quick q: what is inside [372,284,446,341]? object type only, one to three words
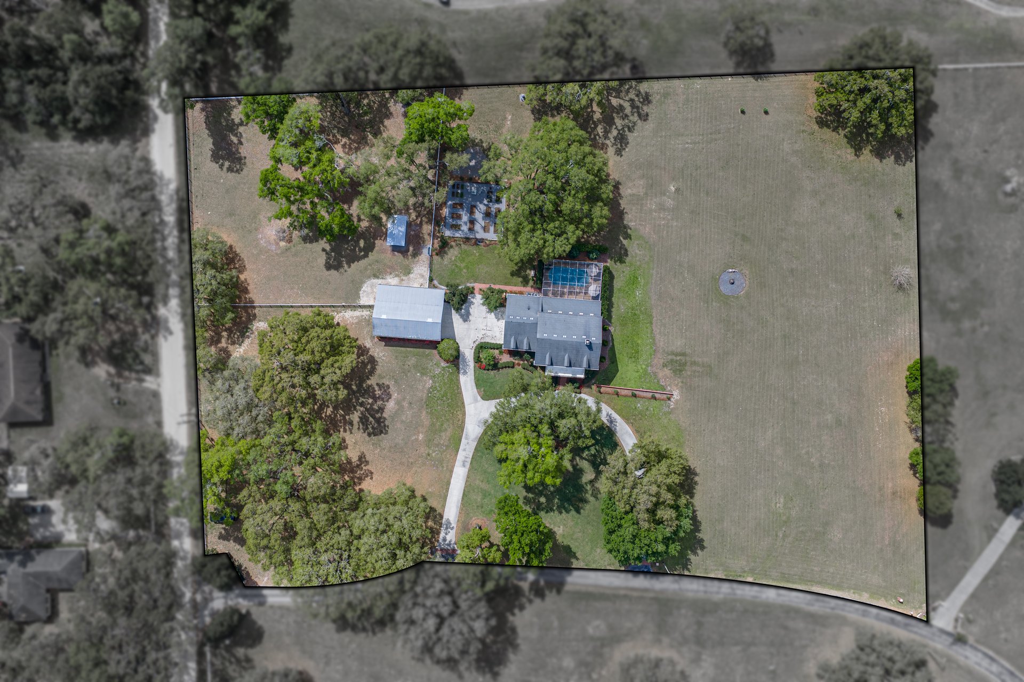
barn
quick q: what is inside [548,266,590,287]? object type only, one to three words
swimming pool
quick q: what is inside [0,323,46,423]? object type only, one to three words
house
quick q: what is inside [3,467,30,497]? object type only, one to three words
shed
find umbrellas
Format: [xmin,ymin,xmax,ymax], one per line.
[587,264,599,276]
[589,285,600,296]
